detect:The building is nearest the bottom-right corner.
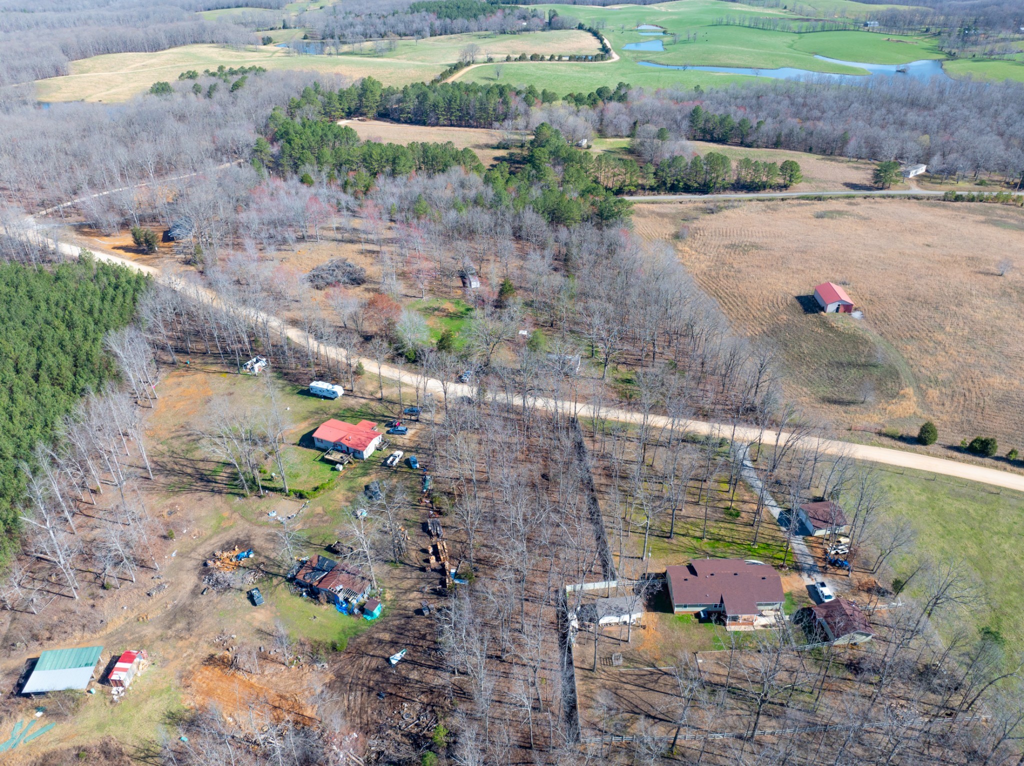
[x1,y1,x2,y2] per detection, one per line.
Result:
[802,595,876,647]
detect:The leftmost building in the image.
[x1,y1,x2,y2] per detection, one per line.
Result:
[22,645,109,703]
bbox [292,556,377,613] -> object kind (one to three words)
house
